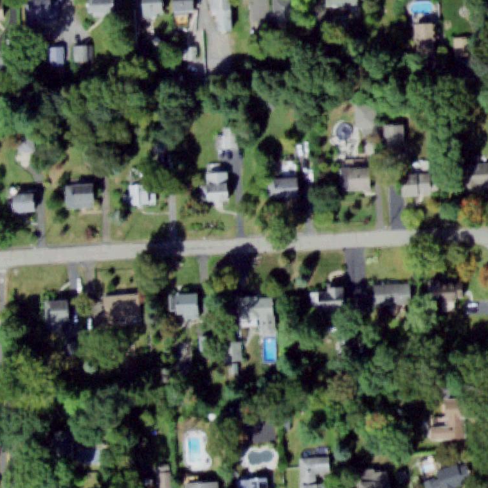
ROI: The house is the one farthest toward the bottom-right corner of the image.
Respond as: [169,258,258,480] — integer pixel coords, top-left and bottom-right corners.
[422,468,468,488]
